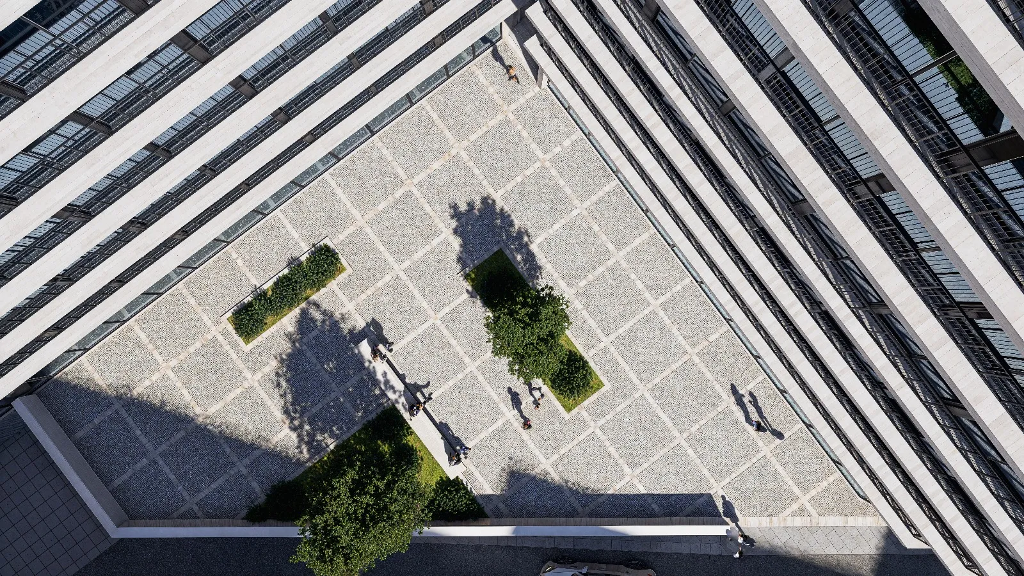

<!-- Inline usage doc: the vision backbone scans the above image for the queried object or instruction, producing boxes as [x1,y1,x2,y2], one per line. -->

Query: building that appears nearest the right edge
[523,0,1024,576]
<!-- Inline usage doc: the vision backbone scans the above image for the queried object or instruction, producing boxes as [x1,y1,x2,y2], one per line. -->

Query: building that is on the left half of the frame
[0,0,518,417]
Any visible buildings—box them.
[0,0,518,417]
[523,0,1024,576]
